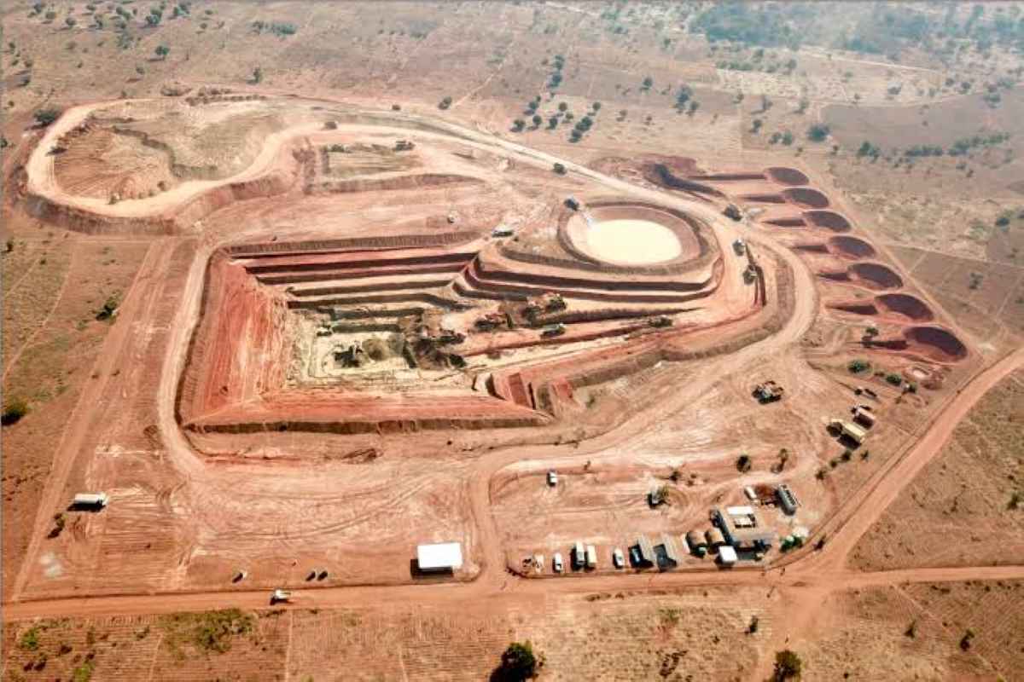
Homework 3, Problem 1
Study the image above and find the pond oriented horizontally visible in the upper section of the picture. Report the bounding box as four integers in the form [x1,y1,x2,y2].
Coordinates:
[586,219,682,264]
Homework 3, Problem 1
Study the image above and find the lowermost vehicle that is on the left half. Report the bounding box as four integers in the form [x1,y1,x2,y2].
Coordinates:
[268,592,293,604]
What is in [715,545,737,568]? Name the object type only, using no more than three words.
building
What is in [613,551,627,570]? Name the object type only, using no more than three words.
car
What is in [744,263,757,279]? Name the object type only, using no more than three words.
vehicle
